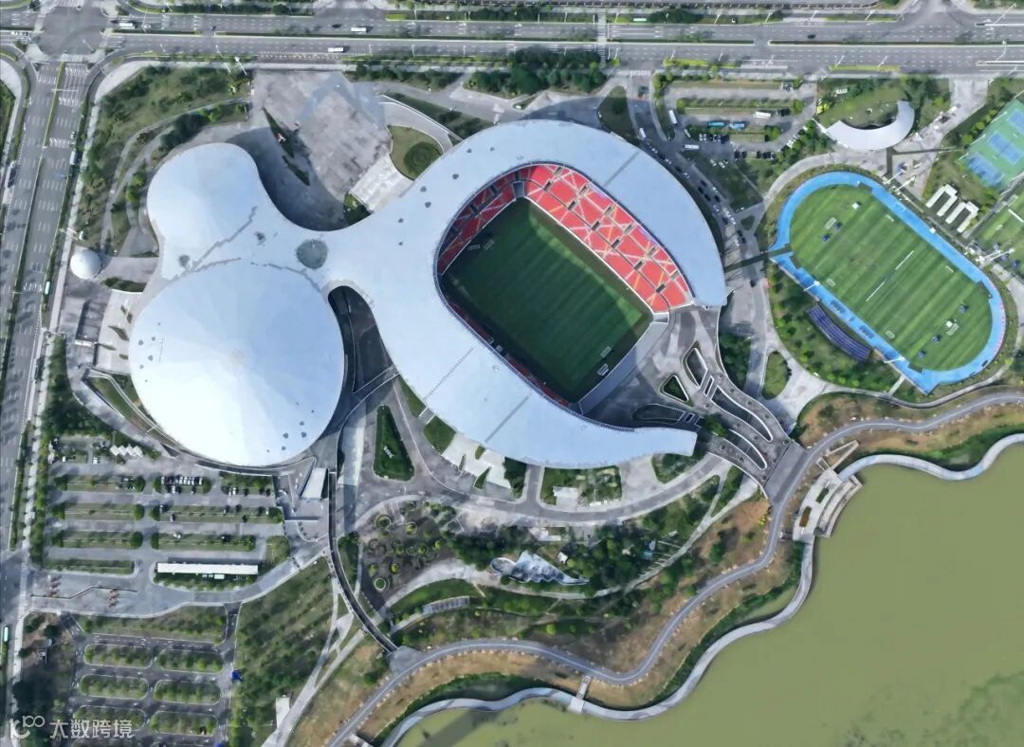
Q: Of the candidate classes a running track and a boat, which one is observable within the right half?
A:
running track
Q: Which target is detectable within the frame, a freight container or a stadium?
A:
stadium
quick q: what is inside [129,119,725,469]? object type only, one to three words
stadium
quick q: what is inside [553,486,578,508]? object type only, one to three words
building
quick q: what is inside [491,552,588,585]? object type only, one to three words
building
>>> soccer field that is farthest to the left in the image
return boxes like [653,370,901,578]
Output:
[437,192,659,408]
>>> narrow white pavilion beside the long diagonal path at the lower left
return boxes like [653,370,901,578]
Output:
[275,695,292,730]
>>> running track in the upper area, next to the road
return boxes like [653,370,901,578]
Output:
[769,170,1006,394]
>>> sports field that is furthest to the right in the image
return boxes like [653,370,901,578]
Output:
[968,182,1024,282]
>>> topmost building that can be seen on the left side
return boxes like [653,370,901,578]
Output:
[71,249,105,280]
